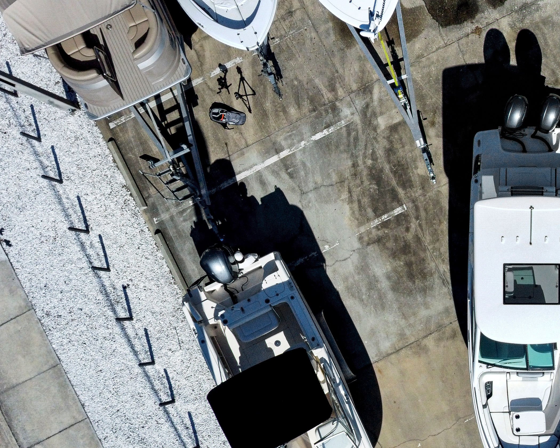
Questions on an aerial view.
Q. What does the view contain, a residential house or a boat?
boat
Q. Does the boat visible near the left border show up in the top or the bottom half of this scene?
top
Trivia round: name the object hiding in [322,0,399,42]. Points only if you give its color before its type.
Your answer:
white boat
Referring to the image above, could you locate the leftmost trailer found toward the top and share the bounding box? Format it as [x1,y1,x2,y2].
[129,85,229,242]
